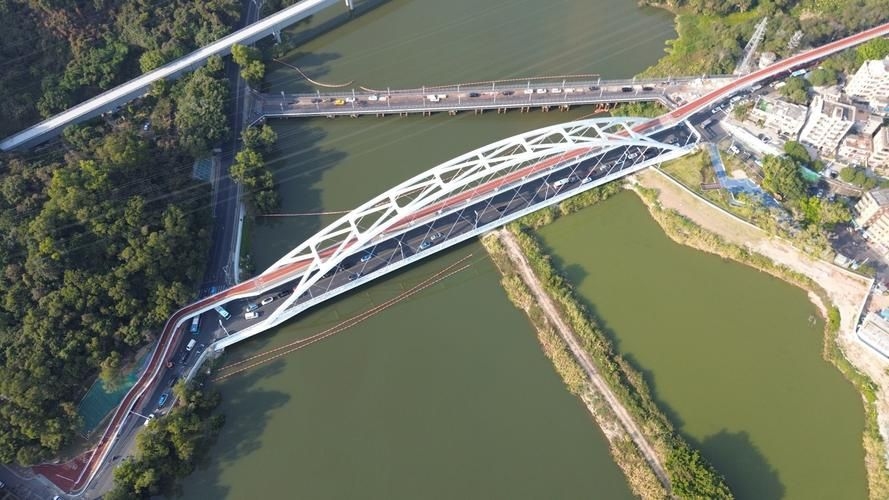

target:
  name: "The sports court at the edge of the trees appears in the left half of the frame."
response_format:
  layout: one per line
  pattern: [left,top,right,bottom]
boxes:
[75,352,152,438]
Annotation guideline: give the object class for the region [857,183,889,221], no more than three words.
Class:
building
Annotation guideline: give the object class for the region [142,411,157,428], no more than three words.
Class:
car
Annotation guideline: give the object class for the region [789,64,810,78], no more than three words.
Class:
vehicle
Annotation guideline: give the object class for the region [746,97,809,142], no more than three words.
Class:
house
